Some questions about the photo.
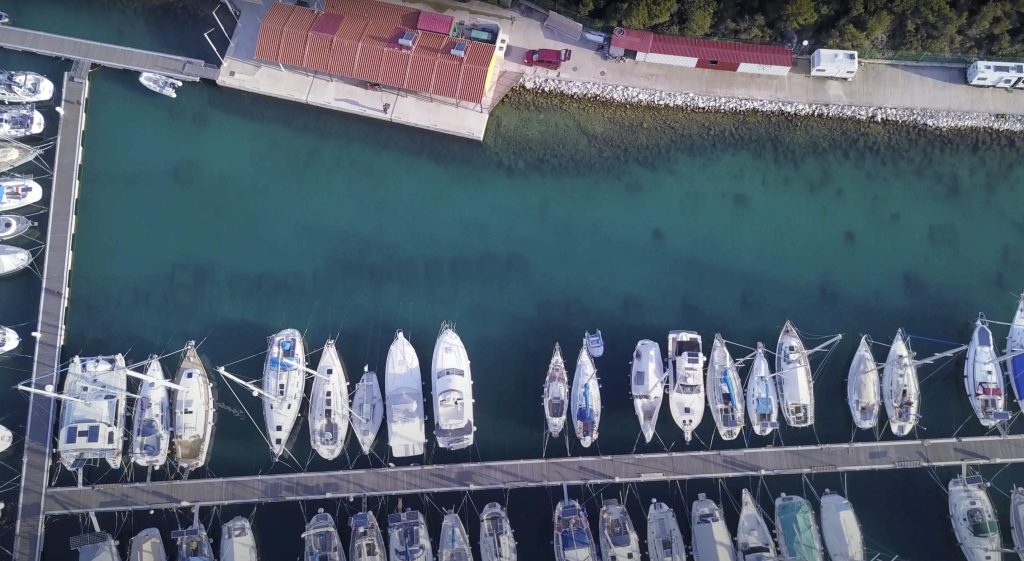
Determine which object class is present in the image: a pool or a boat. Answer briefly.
boat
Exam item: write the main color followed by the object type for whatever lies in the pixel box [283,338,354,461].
white boat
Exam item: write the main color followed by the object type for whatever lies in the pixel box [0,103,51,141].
white boat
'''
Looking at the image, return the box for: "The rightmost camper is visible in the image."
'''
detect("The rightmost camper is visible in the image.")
[963,58,1024,96]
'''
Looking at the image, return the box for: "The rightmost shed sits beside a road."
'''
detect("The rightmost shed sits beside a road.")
[608,27,793,77]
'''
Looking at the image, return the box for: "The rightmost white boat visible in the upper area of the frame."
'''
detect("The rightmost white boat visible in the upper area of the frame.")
[138,71,186,101]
